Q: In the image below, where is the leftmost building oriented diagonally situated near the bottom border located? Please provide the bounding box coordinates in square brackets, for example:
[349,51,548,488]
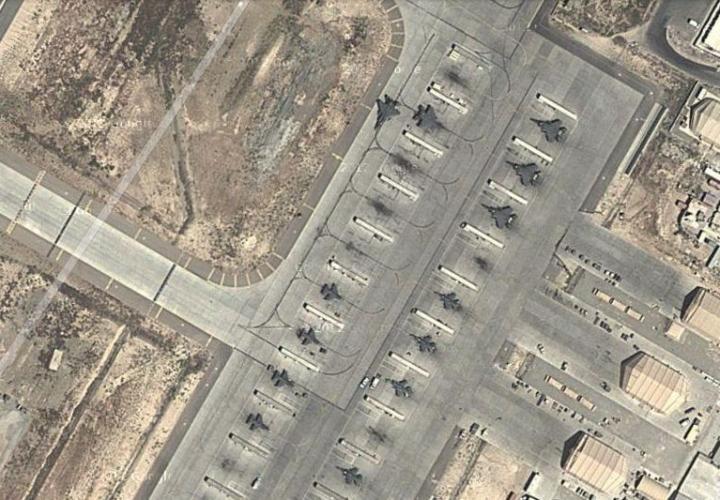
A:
[521,472,549,500]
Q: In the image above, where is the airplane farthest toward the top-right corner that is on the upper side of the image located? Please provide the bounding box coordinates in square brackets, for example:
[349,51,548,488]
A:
[534,121,566,143]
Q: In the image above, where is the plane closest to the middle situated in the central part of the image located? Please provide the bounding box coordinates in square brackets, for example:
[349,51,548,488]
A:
[320,283,345,300]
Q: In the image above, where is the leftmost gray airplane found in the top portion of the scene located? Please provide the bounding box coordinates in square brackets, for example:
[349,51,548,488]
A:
[379,98,400,131]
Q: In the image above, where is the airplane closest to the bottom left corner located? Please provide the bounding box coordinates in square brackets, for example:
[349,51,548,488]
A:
[247,413,271,430]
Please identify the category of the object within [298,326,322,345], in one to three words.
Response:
airplane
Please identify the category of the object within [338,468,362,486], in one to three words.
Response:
airplane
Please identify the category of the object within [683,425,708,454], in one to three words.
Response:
building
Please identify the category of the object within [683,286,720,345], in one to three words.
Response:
hangar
